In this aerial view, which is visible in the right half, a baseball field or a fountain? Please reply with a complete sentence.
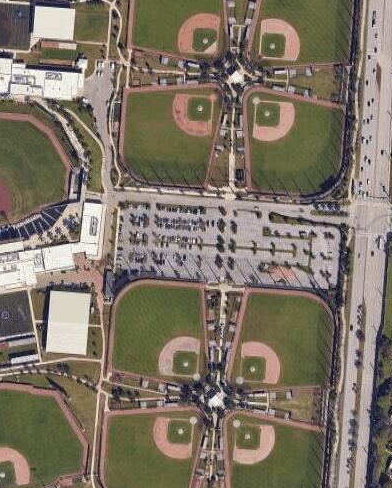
The one visible in the right half is a baseball field.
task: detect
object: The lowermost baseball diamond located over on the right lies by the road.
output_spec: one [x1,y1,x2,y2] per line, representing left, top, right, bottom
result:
[223,411,326,488]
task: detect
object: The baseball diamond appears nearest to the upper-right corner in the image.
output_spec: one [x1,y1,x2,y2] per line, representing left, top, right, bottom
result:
[247,0,354,67]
